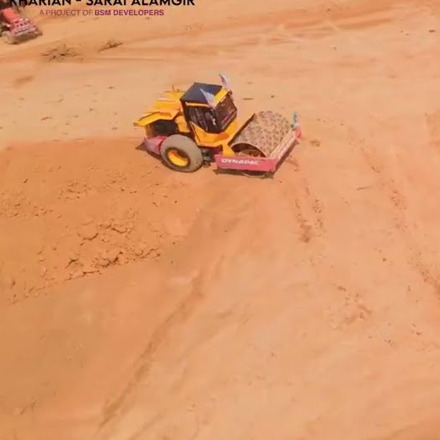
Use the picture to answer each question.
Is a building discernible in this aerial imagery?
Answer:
No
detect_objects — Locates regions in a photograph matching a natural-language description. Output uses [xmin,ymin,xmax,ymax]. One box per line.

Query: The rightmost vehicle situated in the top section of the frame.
[127,85,297,179]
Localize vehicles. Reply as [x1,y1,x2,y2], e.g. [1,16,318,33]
[0,0,40,47]
[127,85,297,179]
